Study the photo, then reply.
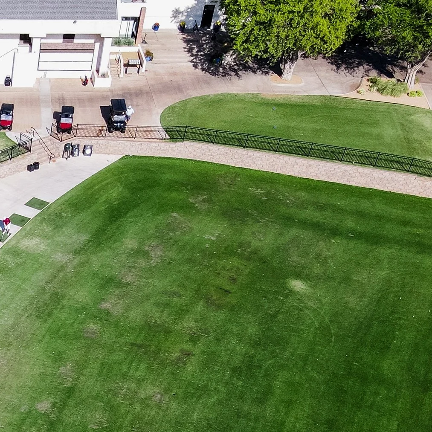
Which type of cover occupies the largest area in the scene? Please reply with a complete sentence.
For the most part, this view shows grass.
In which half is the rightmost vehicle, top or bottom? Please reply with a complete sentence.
Seen from above, the rightmost vehicle lies in the top half of the view.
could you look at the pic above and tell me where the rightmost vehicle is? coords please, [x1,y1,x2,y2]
[104,97,124,127]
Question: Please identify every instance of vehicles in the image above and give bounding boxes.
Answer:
[0,103,11,129]
[104,97,124,127]
[55,105,71,132]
